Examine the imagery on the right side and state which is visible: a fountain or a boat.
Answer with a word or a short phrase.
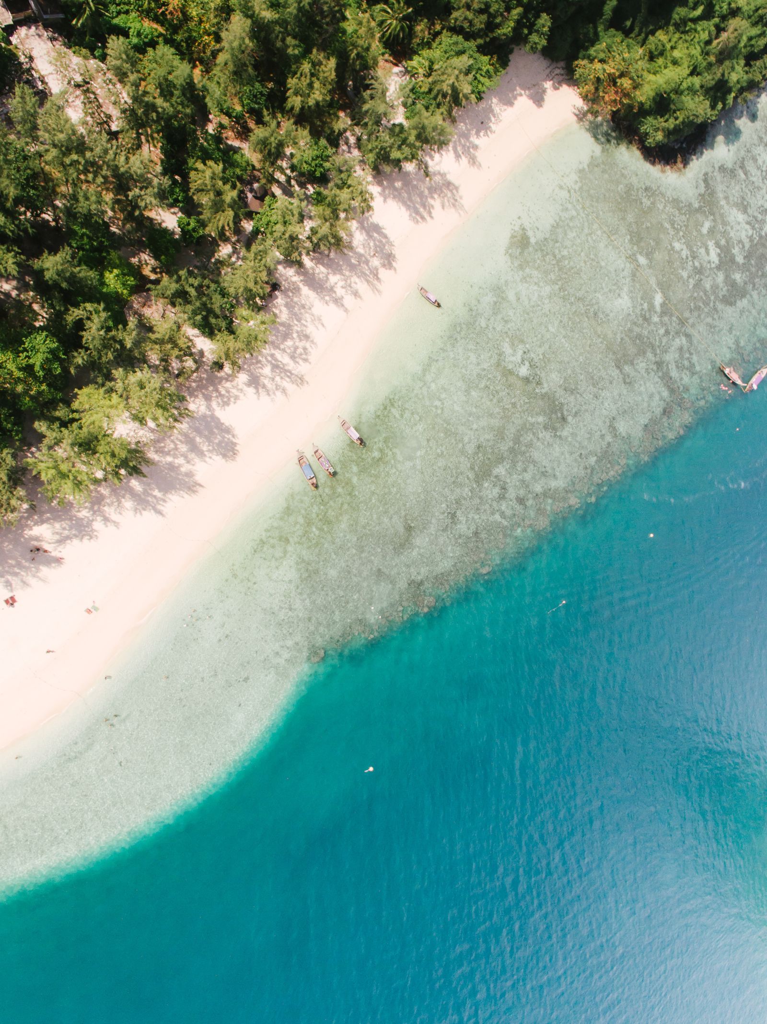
boat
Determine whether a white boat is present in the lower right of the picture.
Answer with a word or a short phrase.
No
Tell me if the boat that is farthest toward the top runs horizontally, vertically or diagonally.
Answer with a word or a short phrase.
diagonally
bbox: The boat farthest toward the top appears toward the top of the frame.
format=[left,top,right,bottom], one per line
[417,281,448,316]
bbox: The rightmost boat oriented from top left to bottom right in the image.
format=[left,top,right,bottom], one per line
[720,362,753,385]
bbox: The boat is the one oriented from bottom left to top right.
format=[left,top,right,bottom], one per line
[746,364,767,393]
